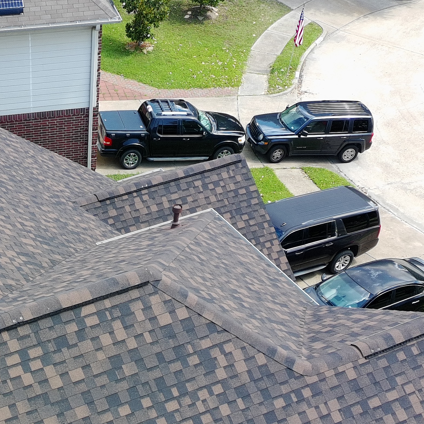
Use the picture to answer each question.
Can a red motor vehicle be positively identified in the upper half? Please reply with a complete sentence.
No, I can find no red motor vehicle in the upper half.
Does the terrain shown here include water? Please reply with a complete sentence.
No, water can't be seen anywhere here.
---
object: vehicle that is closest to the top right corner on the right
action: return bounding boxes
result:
[247,99,379,163]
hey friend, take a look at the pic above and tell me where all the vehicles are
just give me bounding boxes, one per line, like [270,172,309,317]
[266,189,388,279]
[95,93,251,170]
[247,99,379,163]
[311,258,424,317]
